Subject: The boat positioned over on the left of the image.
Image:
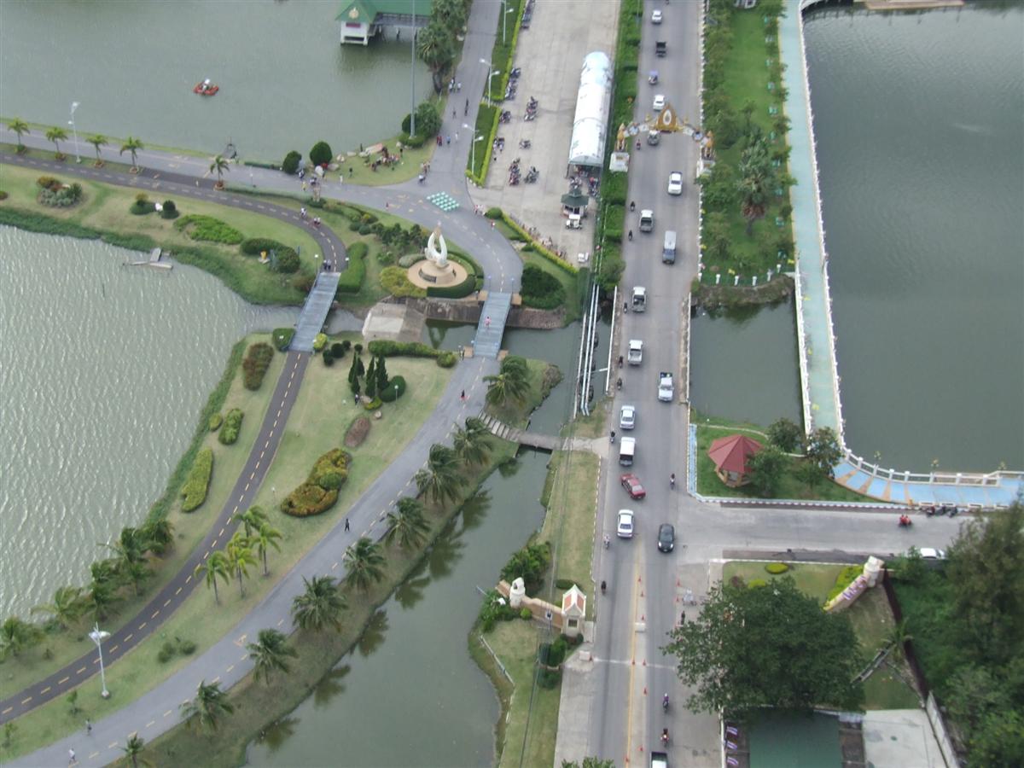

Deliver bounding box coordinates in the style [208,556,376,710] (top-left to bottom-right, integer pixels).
[193,78,218,95]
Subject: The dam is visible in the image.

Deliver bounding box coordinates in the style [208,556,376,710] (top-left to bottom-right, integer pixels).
[362,300,427,344]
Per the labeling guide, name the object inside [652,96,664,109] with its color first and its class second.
white vehicle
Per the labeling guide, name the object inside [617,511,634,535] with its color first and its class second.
white car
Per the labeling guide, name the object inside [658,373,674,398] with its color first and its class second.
white vehicle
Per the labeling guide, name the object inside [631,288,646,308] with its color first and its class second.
gray vehicle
